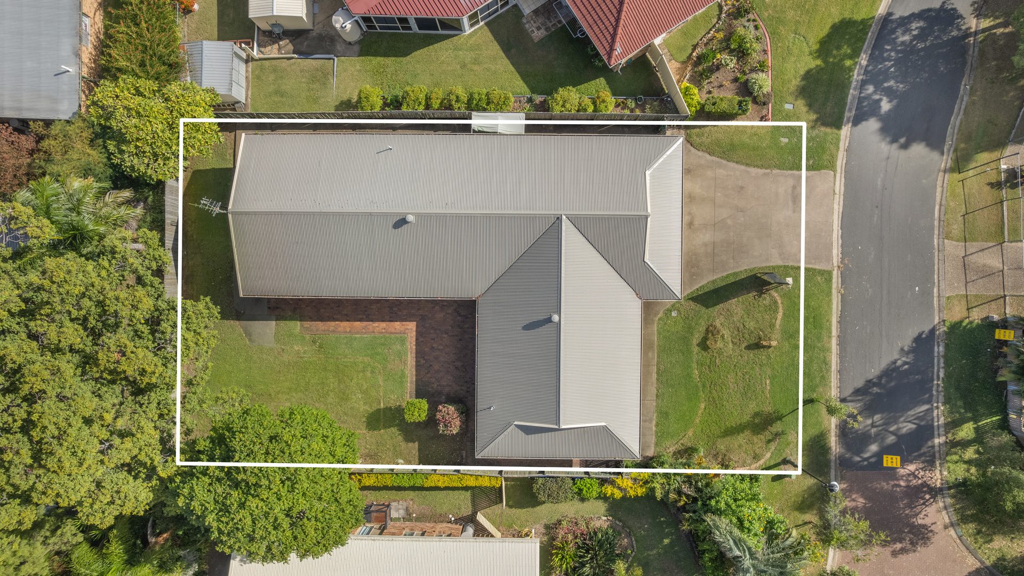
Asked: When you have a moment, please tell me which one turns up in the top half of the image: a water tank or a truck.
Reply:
water tank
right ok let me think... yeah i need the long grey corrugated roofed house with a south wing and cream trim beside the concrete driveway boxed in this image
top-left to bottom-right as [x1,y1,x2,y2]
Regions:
[225,132,685,461]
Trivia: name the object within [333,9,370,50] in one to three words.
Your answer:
water tank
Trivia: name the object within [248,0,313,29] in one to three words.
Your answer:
shed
